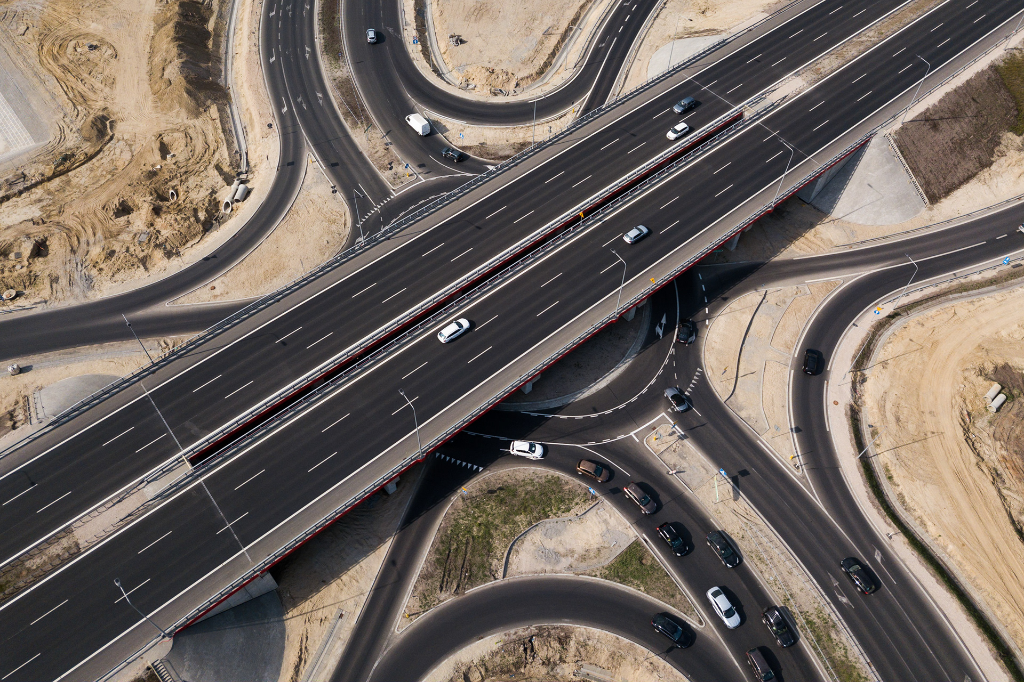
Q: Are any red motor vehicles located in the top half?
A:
No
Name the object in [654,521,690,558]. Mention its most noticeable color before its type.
black car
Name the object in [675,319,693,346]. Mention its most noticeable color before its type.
black car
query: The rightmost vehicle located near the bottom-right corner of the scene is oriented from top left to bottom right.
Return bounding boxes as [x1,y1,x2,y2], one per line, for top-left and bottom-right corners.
[838,558,877,597]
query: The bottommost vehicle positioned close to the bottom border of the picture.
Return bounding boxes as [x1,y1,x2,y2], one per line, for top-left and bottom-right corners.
[743,646,778,682]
